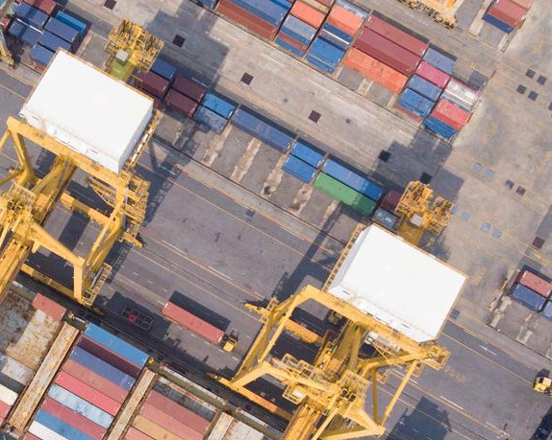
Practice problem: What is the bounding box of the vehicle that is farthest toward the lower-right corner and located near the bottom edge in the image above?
[534,414,552,440]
